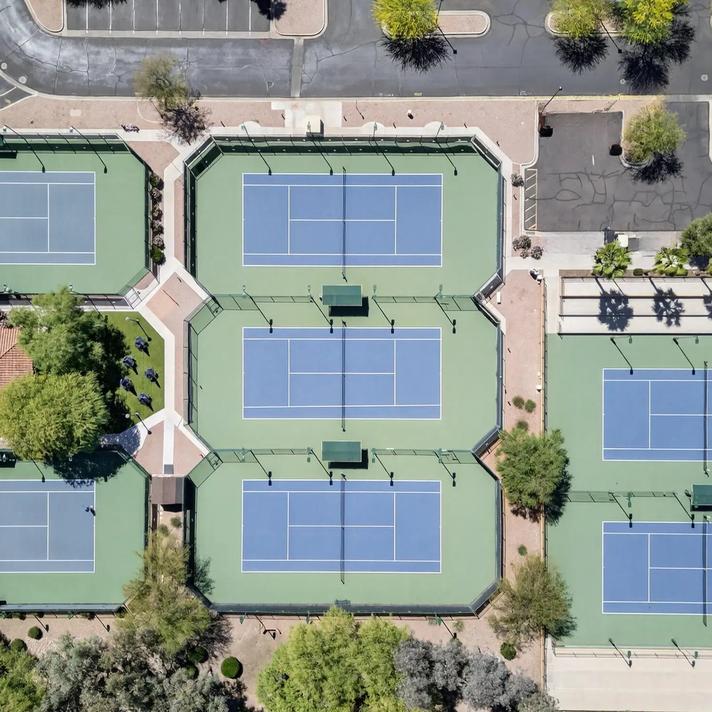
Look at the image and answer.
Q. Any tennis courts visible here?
Yes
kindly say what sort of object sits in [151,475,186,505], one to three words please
shed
